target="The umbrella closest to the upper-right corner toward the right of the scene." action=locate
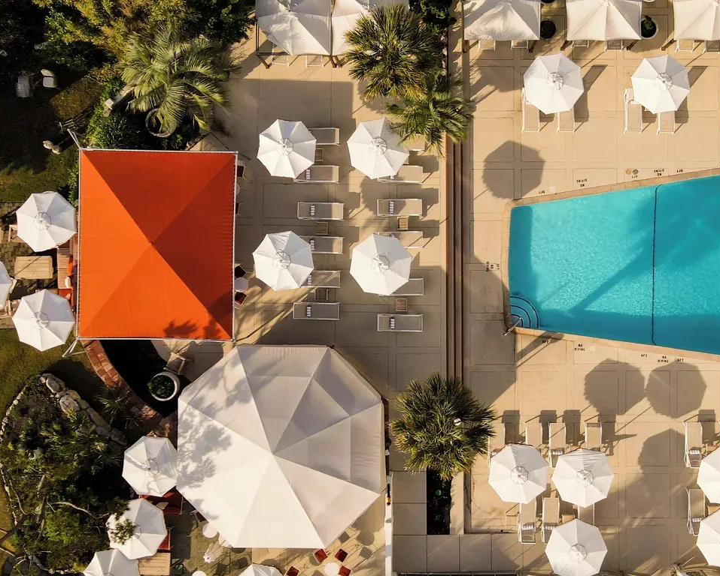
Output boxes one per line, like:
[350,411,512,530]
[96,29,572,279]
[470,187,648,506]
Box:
[632,55,689,113]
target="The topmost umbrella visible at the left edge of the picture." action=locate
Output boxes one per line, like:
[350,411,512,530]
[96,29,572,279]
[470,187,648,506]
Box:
[19,189,81,251]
